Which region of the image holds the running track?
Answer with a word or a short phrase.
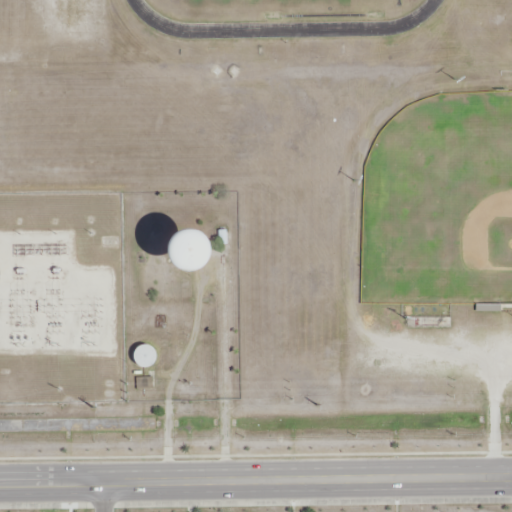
top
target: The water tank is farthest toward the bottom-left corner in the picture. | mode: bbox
[132,344,157,376]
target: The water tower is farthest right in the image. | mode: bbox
[168,229,210,272]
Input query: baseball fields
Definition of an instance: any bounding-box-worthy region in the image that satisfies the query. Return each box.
[361,91,512,304]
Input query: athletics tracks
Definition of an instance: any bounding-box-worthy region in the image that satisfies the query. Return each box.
[130,0,445,38]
